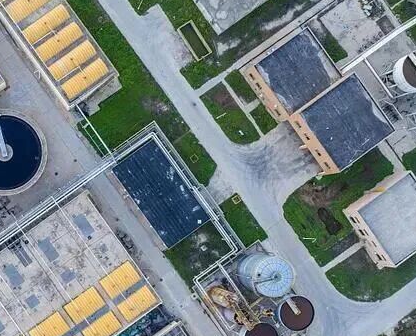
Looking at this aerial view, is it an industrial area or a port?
industrial area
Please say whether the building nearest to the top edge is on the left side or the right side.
right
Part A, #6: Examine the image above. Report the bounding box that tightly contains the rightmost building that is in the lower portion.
[341,173,416,267]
